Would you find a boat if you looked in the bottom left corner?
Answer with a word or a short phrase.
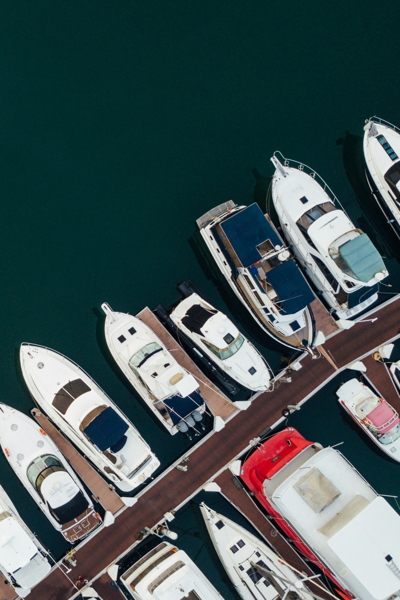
Yes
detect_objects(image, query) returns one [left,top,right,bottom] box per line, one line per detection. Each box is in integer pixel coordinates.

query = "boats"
[0,402,103,544]
[266,151,392,320]
[19,342,160,485]
[100,302,238,441]
[195,200,318,361]
[169,293,276,393]
[238,427,400,600]
[335,378,400,462]
[356,116,400,248]
[0,487,79,600]
[199,501,360,600]
[119,541,222,600]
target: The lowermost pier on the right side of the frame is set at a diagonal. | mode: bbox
[206,460,333,600]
